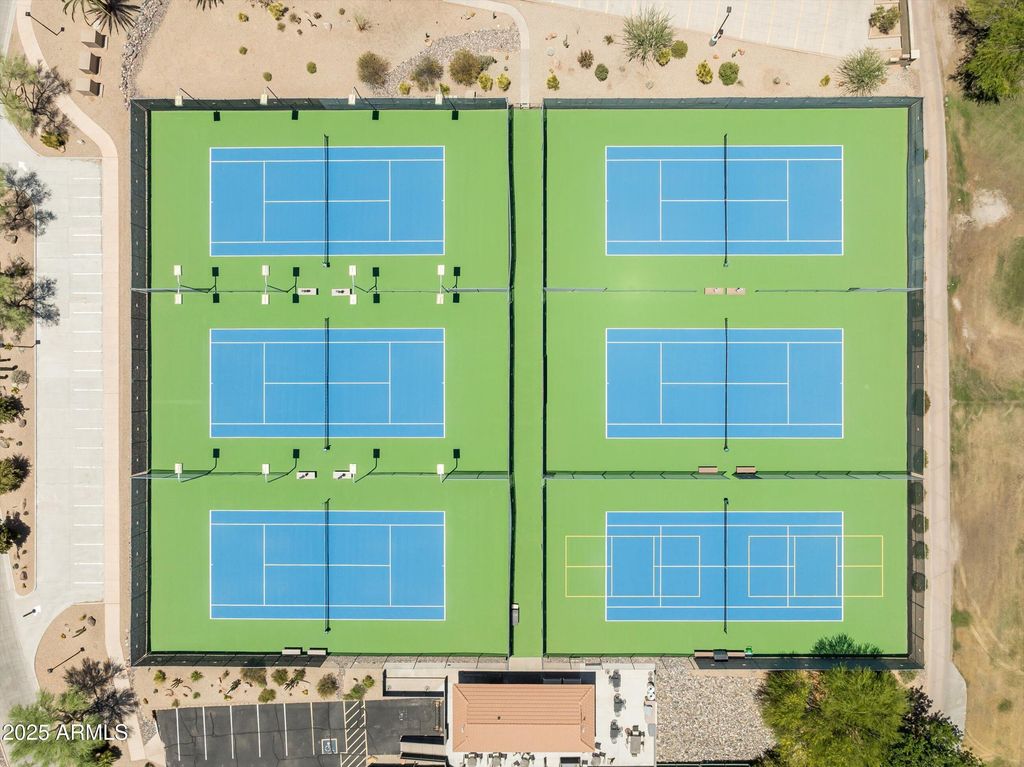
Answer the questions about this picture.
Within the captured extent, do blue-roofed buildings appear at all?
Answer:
No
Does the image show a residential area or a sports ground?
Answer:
sports ground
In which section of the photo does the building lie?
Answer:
bottom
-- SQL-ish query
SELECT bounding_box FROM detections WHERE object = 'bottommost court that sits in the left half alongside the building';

[147,473,508,656]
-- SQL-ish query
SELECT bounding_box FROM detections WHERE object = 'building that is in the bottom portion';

[452,673,595,753]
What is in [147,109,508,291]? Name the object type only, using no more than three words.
tennis court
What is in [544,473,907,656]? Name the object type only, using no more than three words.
tennis court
